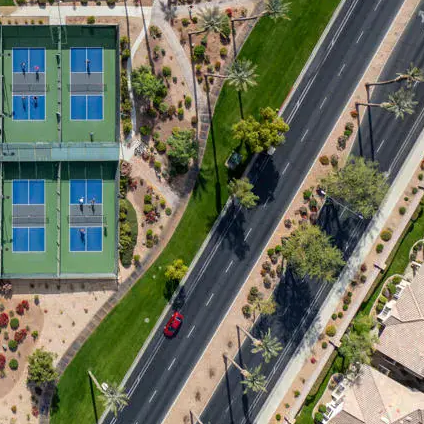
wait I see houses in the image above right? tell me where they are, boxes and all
[342,362,424,424]
[373,262,424,375]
